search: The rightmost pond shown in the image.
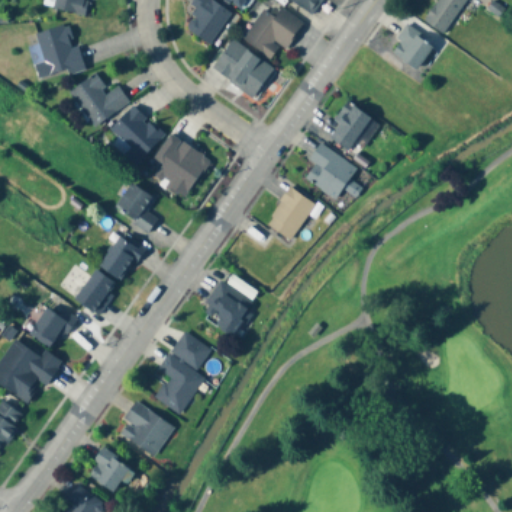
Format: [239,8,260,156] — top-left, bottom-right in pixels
[471,225,512,356]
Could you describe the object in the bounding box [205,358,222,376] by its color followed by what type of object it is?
blue swimming pool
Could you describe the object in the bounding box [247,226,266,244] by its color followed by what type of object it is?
white camper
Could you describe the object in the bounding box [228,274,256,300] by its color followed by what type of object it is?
white camper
